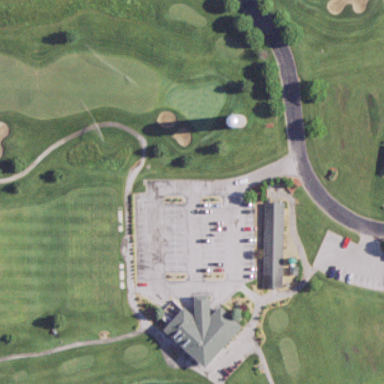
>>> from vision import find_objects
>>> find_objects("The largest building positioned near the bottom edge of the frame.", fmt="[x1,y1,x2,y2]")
[162,296,241,366]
